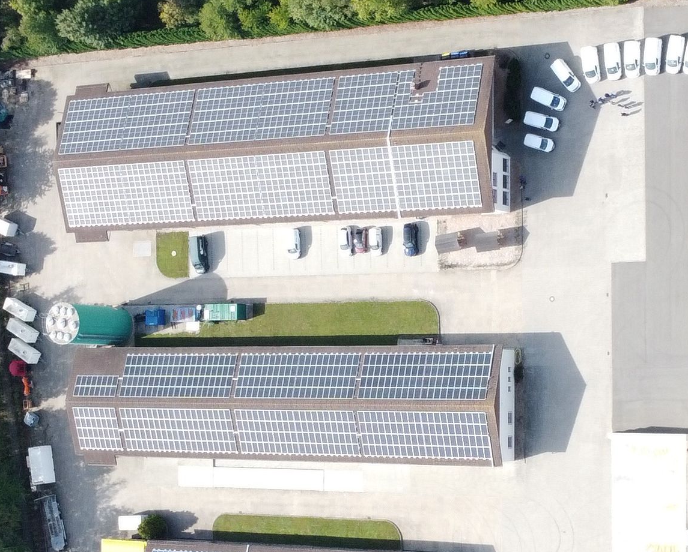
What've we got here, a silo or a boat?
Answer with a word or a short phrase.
silo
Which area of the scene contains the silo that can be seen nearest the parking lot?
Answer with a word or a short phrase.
left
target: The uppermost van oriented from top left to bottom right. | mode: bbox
[550,58,582,93]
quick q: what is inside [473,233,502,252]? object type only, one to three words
shed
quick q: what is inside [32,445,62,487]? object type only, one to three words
truck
